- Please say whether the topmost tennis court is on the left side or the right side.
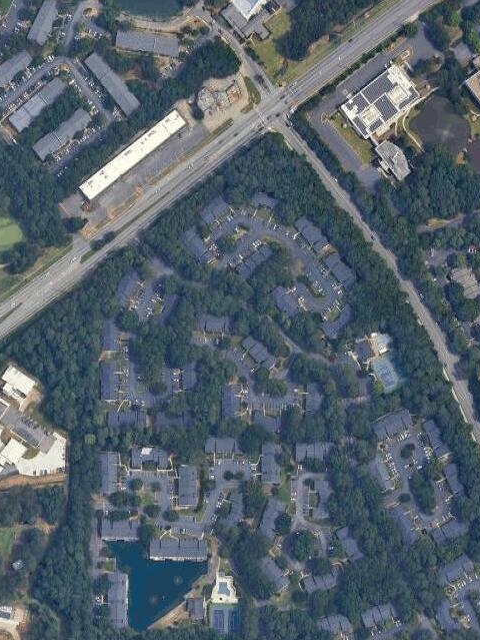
right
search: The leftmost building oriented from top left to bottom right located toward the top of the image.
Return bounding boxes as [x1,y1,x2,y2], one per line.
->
[85,50,140,116]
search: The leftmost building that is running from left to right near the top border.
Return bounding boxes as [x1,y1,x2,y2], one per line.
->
[114,28,181,58]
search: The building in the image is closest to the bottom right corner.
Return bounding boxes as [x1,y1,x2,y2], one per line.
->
[436,598,460,633]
